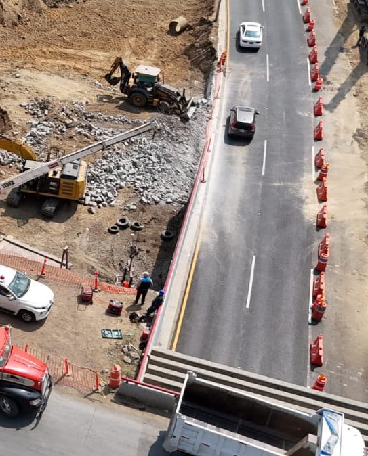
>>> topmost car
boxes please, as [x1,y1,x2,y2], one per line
[239,17,266,47]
